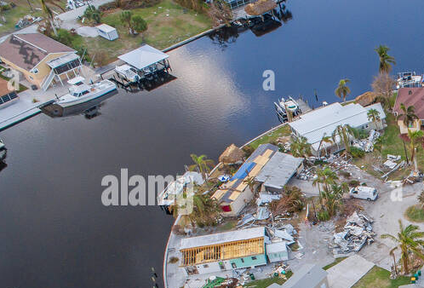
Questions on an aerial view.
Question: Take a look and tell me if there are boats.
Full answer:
Yes, looking at the shot, I can spot a boat.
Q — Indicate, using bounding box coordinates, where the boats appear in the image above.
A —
[157,169,196,205]
[115,64,143,83]
[52,76,118,105]
[280,95,303,119]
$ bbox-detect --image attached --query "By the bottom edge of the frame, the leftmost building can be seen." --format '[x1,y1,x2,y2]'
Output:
[180,226,268,278]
